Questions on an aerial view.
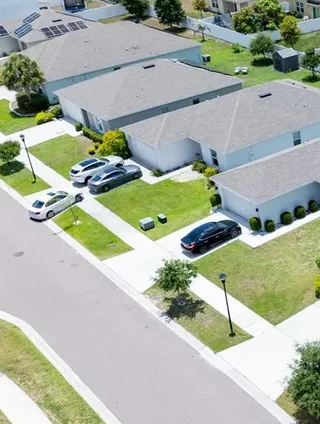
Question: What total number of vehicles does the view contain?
4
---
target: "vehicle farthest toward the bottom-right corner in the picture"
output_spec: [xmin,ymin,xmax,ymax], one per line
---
[176,220,243,251]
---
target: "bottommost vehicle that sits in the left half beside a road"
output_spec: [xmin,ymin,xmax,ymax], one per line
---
[21,188,84,218]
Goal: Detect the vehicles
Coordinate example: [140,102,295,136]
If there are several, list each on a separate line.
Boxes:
[21,188,84,218]
[83,163,142,189]
[64,156,122,182]
[176,220,243,251]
